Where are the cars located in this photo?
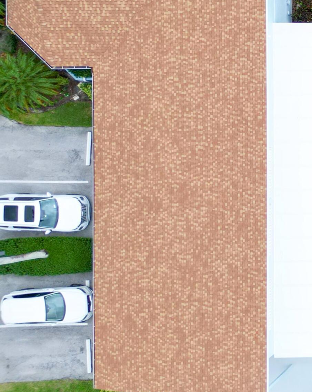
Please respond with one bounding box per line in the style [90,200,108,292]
[0,283,91,328]
[0,191,91,237]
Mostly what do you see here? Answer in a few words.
buildings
